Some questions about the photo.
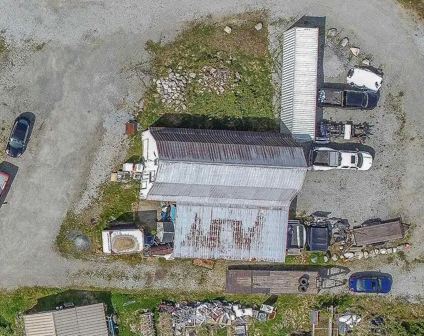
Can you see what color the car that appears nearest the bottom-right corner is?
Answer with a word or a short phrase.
blue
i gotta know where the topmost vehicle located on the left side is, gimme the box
[5,115,32,159]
